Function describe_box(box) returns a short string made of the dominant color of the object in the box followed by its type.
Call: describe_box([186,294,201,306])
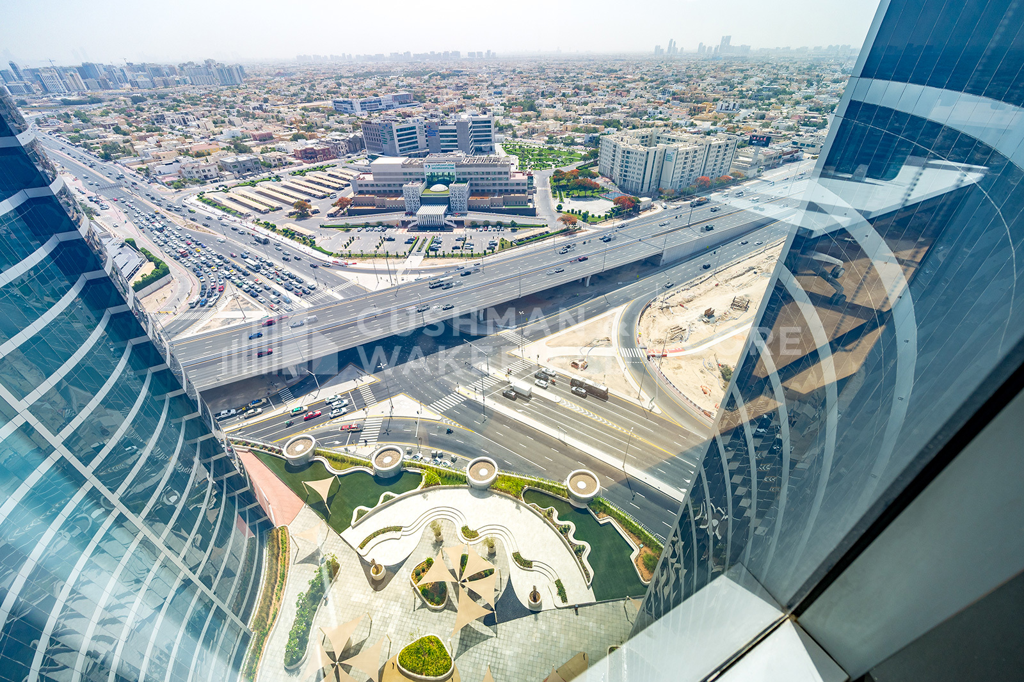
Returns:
white vehicle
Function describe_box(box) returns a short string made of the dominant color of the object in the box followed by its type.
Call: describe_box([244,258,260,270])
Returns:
white vehicle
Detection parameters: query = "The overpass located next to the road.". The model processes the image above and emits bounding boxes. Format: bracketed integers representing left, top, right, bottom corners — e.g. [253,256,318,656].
[170,146,831,392]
